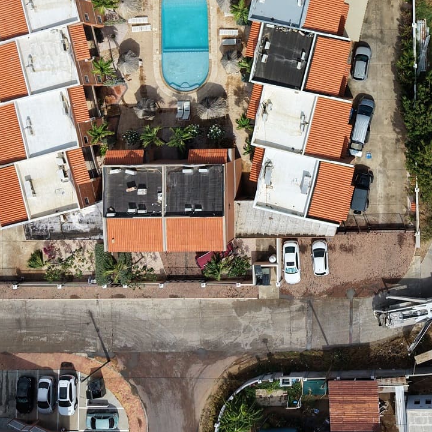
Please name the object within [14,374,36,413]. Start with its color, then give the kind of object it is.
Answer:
black car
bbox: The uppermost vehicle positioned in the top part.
[352,42,374,82]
